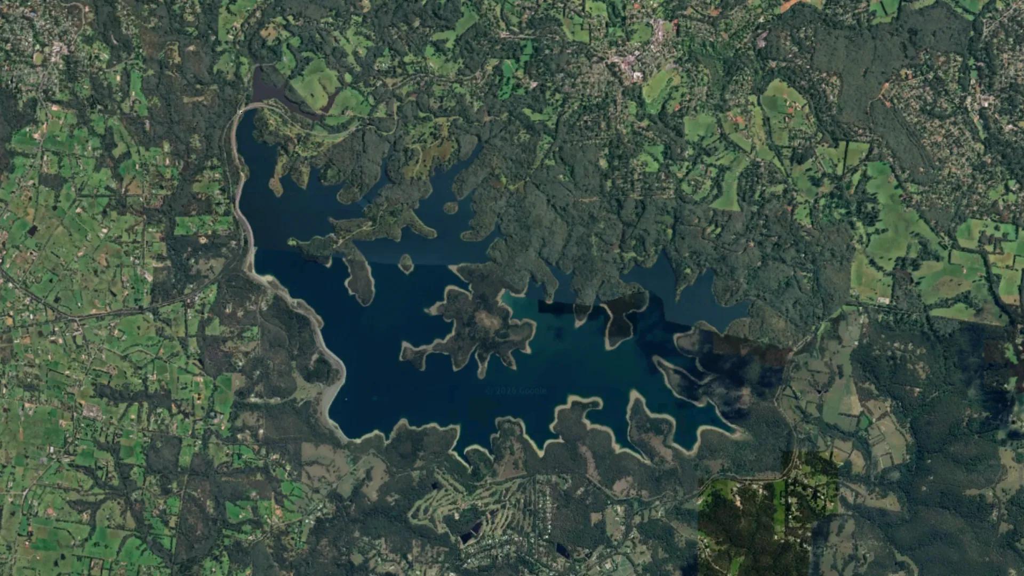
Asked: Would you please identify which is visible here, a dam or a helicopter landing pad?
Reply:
dam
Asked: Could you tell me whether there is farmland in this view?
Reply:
Yes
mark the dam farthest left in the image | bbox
[232,104,255,266]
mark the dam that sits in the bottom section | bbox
[285,296,348,443]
